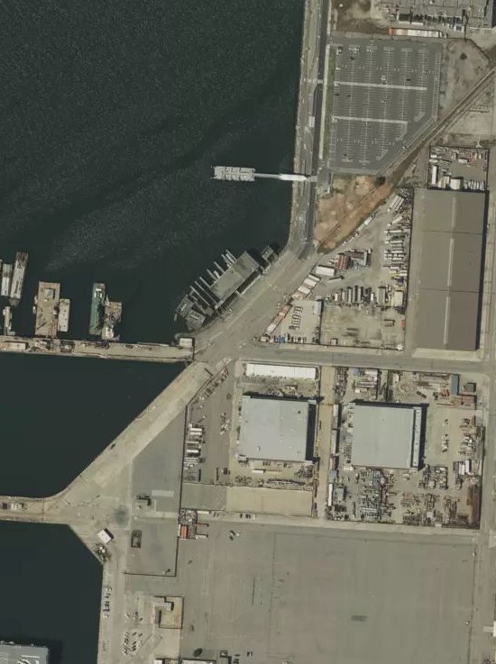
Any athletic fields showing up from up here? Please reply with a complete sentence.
No, the frame has no athletic field in it.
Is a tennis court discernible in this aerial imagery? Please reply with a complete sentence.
No, I find no tennis court anywhere in the image.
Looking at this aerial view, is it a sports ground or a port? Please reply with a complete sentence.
What you see here is a port.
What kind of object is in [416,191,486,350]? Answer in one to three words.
building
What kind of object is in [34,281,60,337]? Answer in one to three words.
ship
